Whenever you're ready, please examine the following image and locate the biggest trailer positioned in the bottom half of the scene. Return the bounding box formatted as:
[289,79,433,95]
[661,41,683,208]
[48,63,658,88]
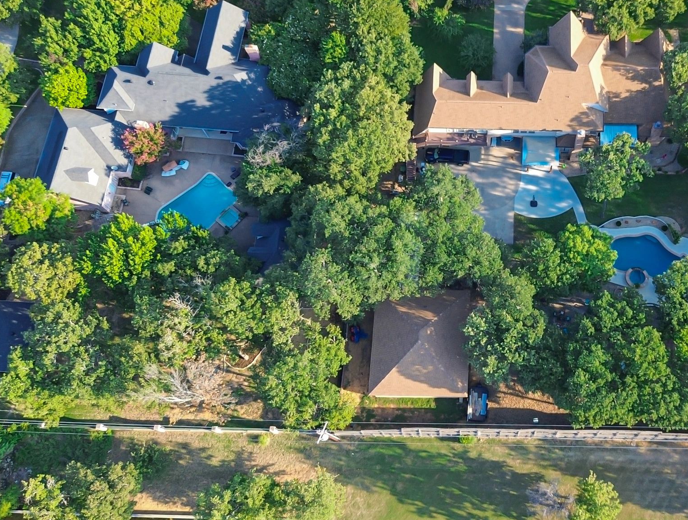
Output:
[466,376,490,422]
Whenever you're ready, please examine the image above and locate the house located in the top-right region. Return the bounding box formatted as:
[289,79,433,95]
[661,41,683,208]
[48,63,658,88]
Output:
[412,10,673,171]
